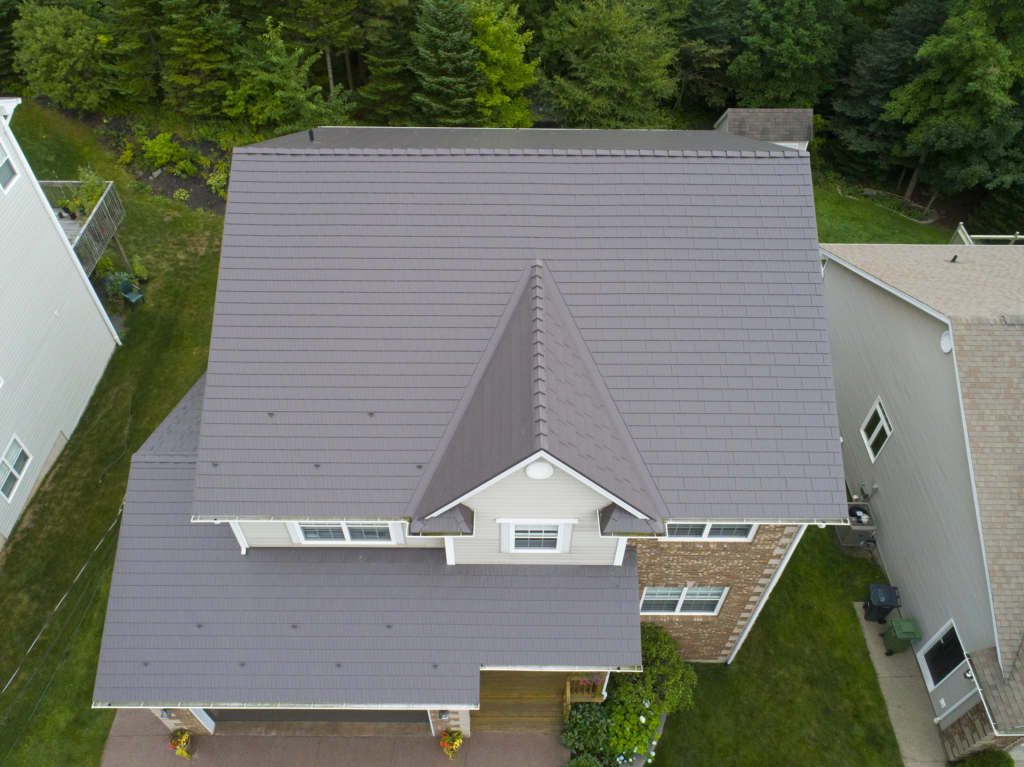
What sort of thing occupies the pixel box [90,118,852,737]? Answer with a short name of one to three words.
house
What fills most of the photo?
buildings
